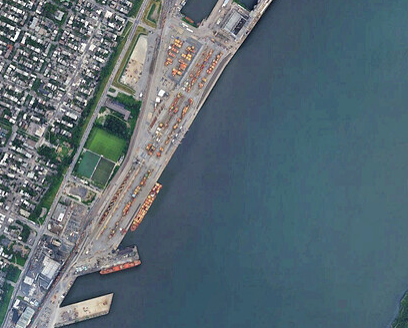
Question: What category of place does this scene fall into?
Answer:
port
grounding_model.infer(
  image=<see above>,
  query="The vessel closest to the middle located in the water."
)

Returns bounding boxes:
[132,183,162,231]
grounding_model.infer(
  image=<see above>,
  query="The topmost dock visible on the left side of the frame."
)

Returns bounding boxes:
[77,246,140,276]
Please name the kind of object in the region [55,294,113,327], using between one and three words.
pier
